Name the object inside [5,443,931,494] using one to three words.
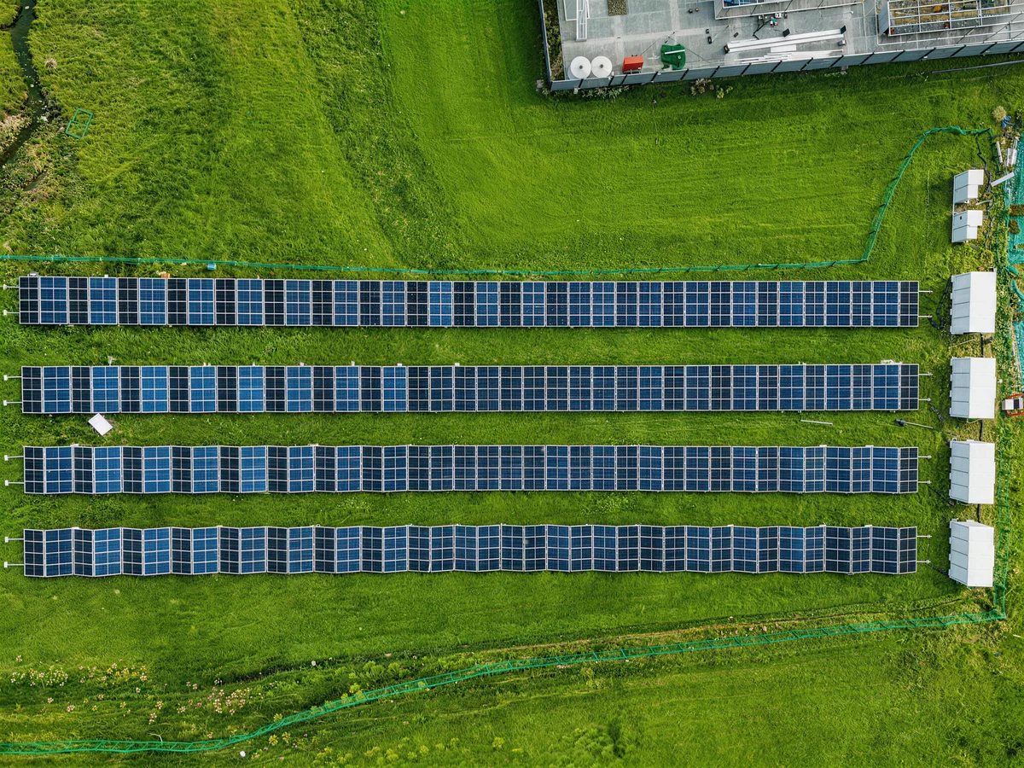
solar array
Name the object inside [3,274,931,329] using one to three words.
solar array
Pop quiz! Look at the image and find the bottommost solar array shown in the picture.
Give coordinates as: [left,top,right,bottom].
[5,522,931,578]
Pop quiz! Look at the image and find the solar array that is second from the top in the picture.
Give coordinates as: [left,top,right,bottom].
[4,362,931,414]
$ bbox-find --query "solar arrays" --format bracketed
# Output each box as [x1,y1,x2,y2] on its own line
[4,362,931,414]
[5,443,931,494]
[5,522,931,578]
[3,274,931,329]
